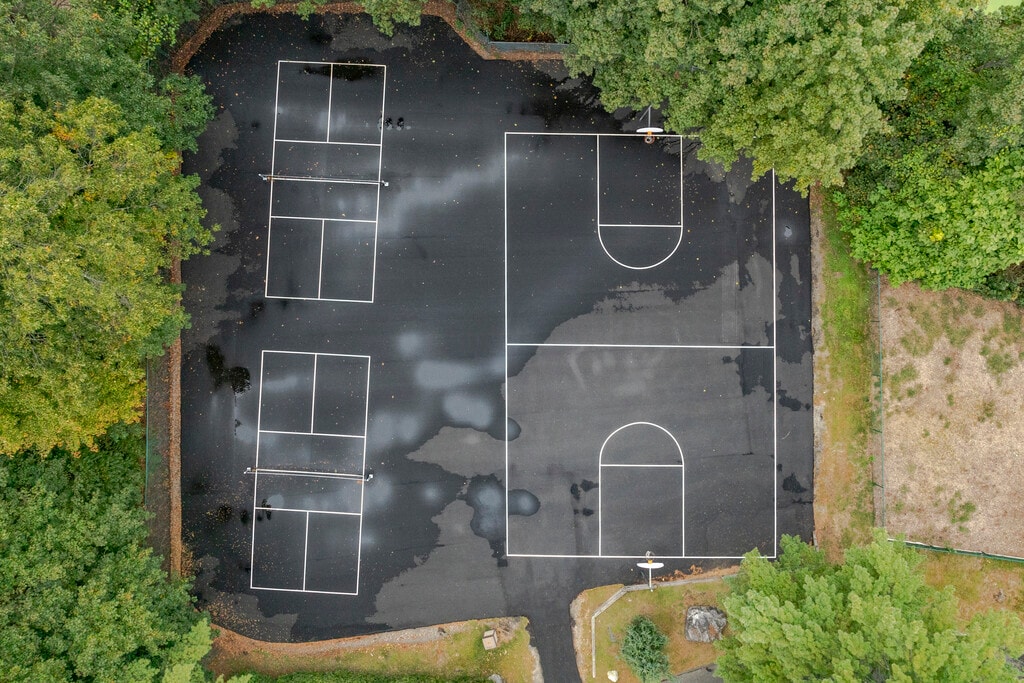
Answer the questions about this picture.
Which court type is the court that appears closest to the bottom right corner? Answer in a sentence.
It turns out the court that appears closest to the bottom right corner is a basketball court.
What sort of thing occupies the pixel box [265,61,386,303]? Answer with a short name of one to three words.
sports court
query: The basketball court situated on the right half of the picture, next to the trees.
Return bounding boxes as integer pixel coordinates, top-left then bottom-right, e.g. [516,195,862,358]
[505,131,777,558]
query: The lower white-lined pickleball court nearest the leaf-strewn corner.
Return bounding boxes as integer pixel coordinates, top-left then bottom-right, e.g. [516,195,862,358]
[250,350,371,595]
